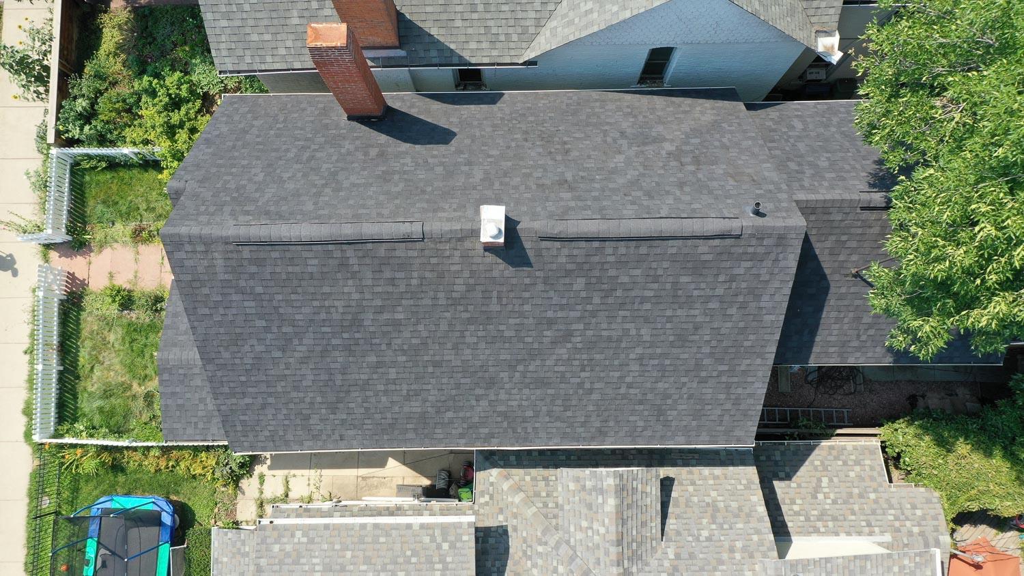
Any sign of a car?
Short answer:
No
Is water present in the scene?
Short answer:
No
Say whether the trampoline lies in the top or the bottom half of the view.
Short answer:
bottom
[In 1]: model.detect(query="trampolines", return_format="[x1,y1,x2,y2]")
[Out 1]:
[47,491,179,576]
